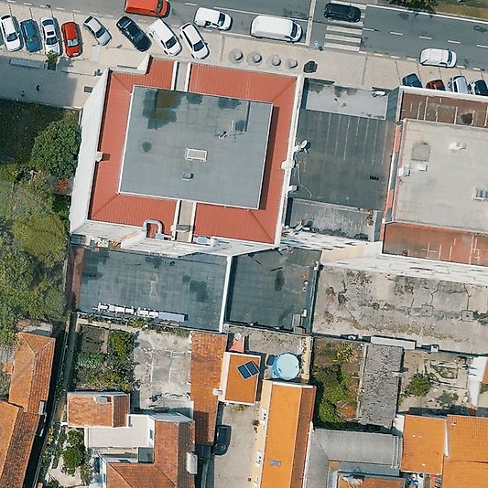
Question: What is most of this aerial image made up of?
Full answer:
For the most part, this view shows buildings.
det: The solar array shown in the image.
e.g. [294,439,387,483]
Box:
[236,360,259,380]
